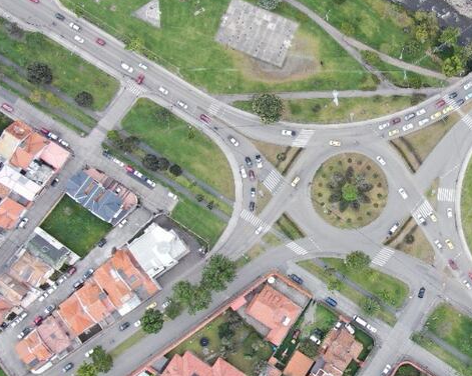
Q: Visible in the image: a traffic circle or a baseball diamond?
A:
traffic circle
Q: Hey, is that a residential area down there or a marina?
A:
residential area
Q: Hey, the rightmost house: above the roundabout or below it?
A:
below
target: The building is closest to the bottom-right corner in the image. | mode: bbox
[311,327,363,376]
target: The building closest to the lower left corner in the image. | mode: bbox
[14,330,56,373]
